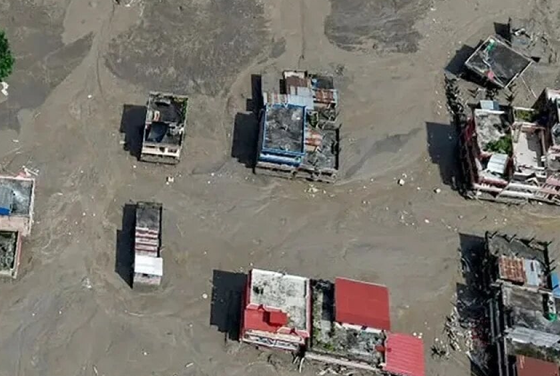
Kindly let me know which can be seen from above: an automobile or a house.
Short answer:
house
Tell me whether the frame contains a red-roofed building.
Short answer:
Yes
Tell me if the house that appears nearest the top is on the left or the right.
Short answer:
right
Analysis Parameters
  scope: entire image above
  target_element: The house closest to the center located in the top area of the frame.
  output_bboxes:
[257,72,339,181]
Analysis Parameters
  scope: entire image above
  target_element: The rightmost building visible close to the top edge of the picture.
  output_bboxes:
[503,19,553,65]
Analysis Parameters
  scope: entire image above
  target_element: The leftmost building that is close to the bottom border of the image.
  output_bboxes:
[236,270,310,359]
